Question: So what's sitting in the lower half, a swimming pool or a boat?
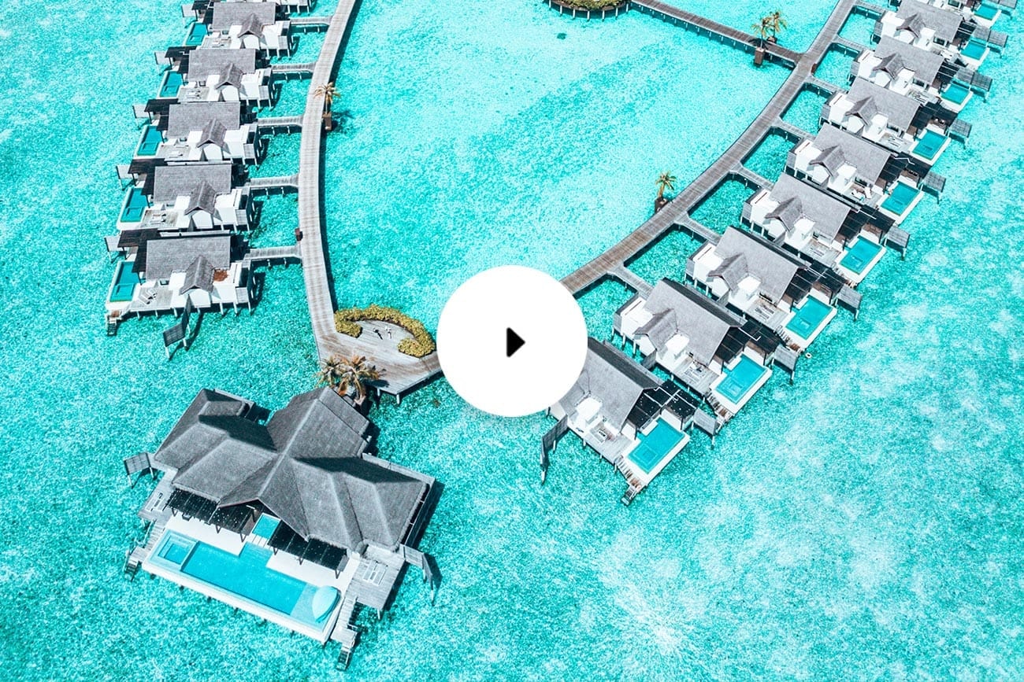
swimming pool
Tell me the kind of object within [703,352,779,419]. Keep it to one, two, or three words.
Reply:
swimming pool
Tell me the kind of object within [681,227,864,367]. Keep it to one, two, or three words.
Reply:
house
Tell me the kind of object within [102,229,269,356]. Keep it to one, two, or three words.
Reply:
house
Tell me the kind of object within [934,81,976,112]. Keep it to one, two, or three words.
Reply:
swimming pool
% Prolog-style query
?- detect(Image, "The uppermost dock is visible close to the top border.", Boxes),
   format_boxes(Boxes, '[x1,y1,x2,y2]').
[624,0,815,73]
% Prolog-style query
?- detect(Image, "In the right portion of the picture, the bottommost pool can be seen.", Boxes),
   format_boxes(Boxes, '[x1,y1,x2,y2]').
[615,415,697,490]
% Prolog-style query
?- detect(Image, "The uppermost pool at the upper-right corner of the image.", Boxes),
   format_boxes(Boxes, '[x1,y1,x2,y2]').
[971,0,1004,25]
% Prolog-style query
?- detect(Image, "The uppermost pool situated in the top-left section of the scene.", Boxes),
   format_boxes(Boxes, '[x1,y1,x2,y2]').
[181,19,213,48]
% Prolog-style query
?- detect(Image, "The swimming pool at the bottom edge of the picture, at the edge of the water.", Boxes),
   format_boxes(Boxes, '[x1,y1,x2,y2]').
[142,529,352,648]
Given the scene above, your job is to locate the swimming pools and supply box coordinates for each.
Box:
[955,37,991,69]
[142,529,352,648]
[703,352,779,419]
[774,293,843,353]
[906,128,955,165]
[971,0,1004,25]
[103,254,147,315]
[872,179,928,227]
[130,121,168,164]
[153,67,188,99]
[829,233,892,289]
[181,19,213,48]
[615,415,697,490]
[113,182,154,233]
[934,81,976,112]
